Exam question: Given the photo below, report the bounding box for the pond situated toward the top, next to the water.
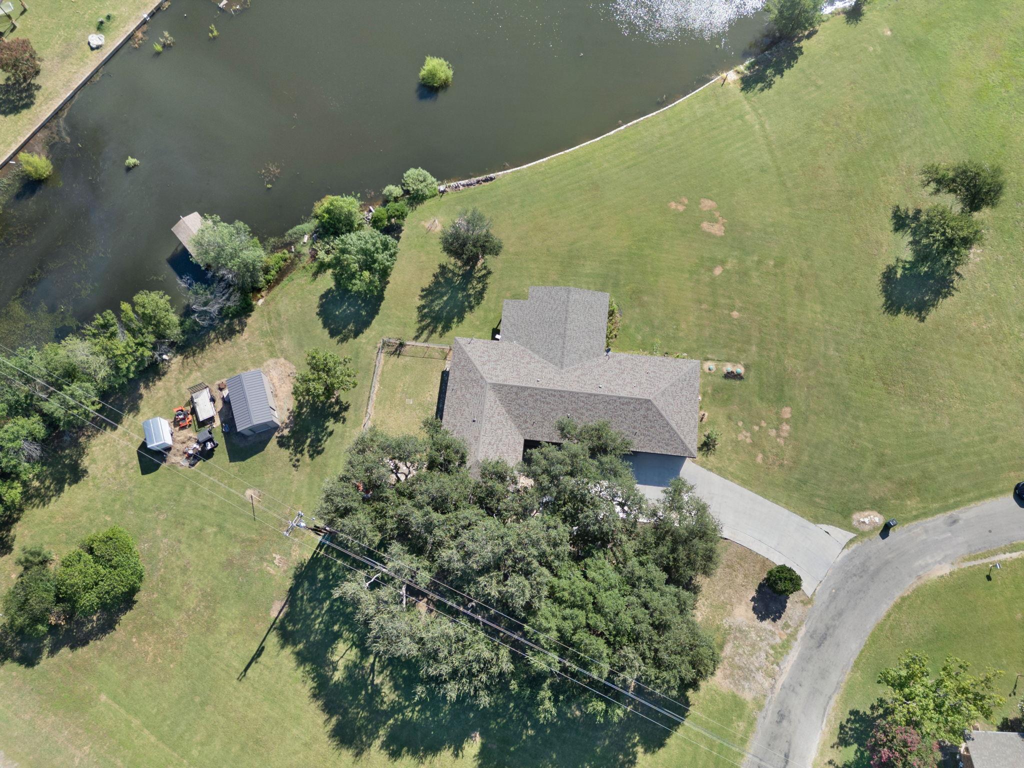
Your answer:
[0,0,858,364]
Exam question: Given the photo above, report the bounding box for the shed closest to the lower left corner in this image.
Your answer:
[140,415,172,451]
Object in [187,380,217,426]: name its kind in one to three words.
trailer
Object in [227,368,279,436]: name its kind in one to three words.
shed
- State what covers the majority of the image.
grass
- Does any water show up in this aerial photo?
Yes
